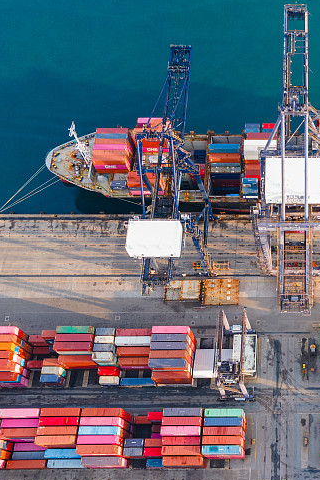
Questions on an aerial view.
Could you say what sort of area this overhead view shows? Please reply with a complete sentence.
This image shows a port.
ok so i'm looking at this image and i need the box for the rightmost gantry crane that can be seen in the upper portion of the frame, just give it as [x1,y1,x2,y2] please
[250,2,320,312]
